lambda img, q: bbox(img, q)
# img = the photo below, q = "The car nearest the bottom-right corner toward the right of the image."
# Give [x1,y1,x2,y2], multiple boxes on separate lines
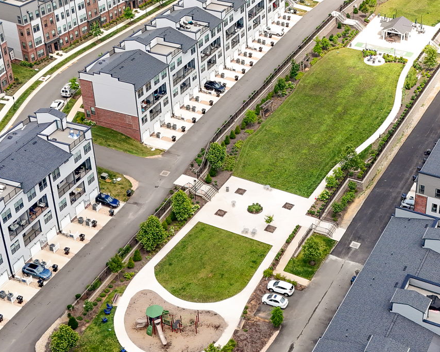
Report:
[395,194,417,211]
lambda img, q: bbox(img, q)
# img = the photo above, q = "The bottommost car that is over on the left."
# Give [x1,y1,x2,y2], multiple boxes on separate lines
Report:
[23,257,52,282]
